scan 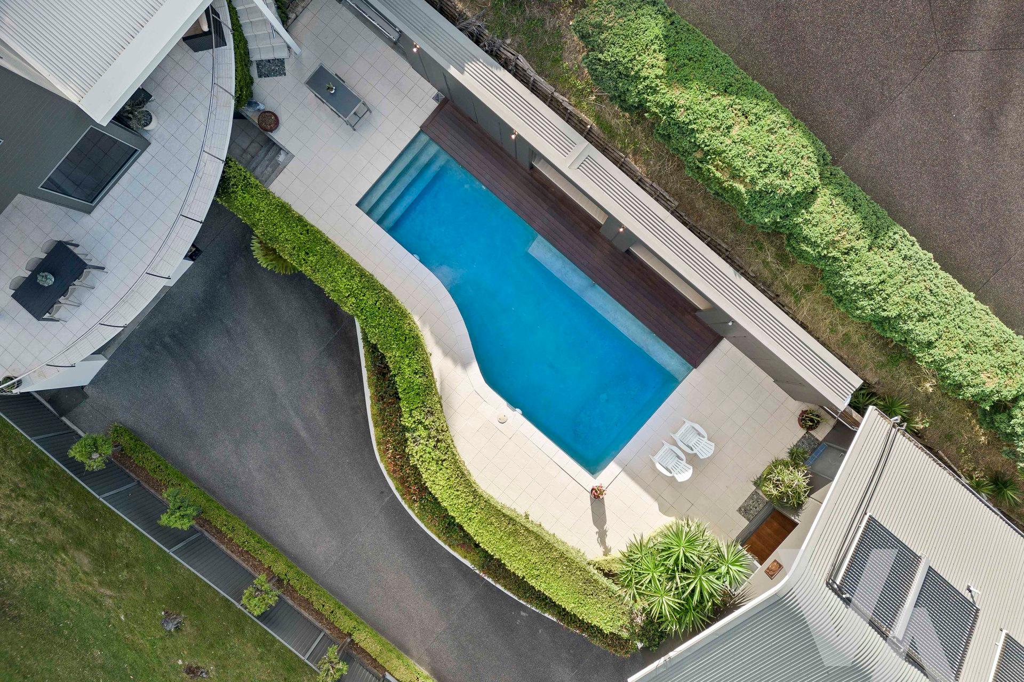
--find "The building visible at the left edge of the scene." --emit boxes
[0,0,240,397]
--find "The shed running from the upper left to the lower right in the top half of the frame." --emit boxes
[348,0,870,422]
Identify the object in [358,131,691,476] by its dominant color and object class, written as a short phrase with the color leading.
blue swimming pool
